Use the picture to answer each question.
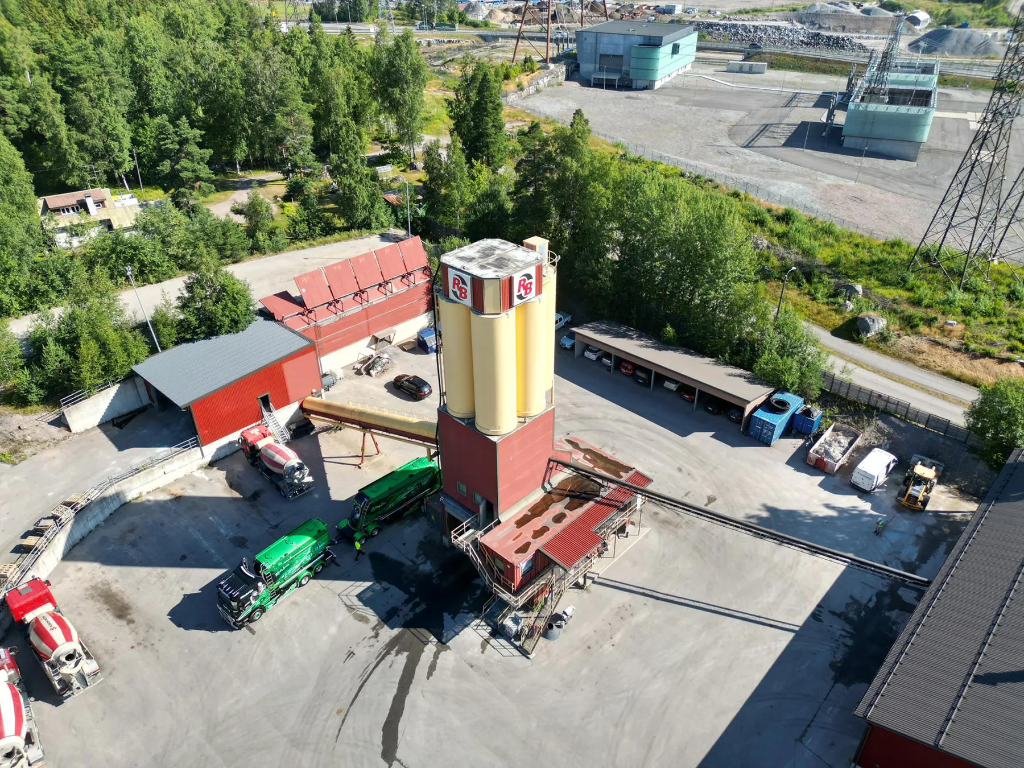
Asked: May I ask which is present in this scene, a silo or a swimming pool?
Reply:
silo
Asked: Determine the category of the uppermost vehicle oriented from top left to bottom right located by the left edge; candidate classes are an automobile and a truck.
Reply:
truck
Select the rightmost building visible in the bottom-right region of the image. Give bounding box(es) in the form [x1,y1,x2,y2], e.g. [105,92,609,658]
[847,444,1024,768]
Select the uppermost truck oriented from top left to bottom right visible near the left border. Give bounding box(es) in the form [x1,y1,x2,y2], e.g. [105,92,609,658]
[1,580,106,706]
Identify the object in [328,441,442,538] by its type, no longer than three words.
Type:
trailer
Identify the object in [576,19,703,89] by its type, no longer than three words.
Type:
building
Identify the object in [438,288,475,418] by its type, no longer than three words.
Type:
silo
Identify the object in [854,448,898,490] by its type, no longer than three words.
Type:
van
